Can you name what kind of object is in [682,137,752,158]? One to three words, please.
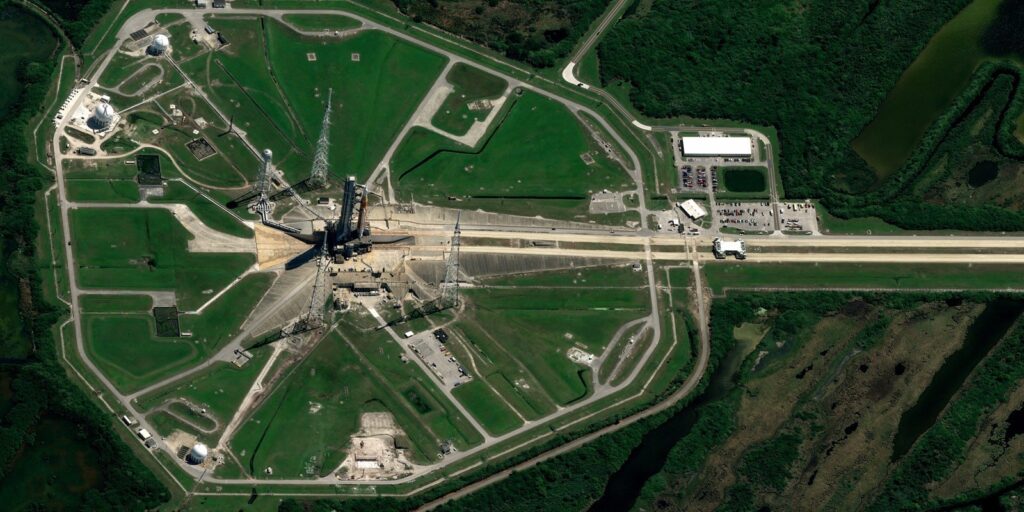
building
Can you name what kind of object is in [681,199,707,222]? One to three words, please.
building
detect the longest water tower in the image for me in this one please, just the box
[256,151,272,199]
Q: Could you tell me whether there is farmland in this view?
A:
No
